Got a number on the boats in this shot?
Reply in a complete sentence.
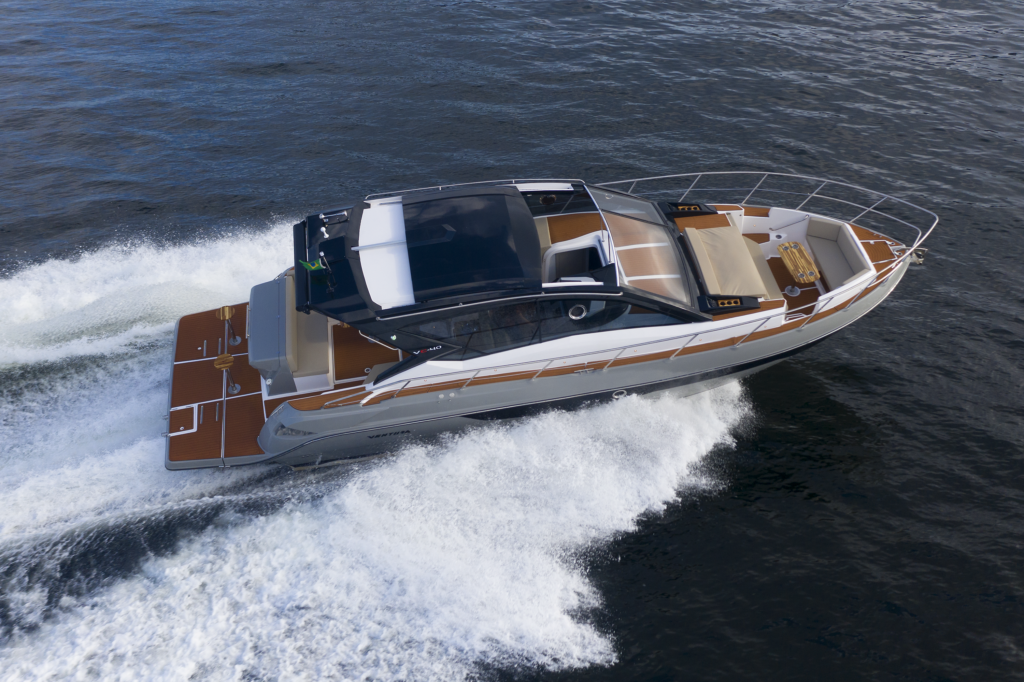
Altogether the scene contains 1 boat.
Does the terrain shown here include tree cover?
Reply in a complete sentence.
No, there's no tree cover in this view.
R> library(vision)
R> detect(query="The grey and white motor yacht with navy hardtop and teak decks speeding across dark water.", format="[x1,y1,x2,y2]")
[162,172,943,476]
